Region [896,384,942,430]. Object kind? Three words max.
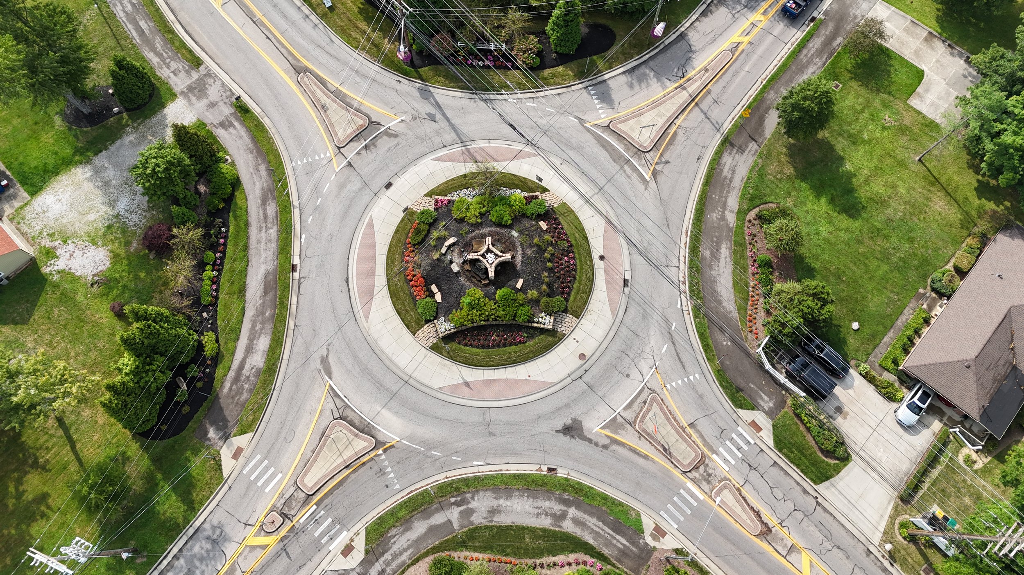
car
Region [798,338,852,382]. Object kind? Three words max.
car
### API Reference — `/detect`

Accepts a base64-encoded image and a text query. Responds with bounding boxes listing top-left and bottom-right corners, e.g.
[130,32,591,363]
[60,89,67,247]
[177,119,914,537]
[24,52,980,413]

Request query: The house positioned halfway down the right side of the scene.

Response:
[893,226,1024,440]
